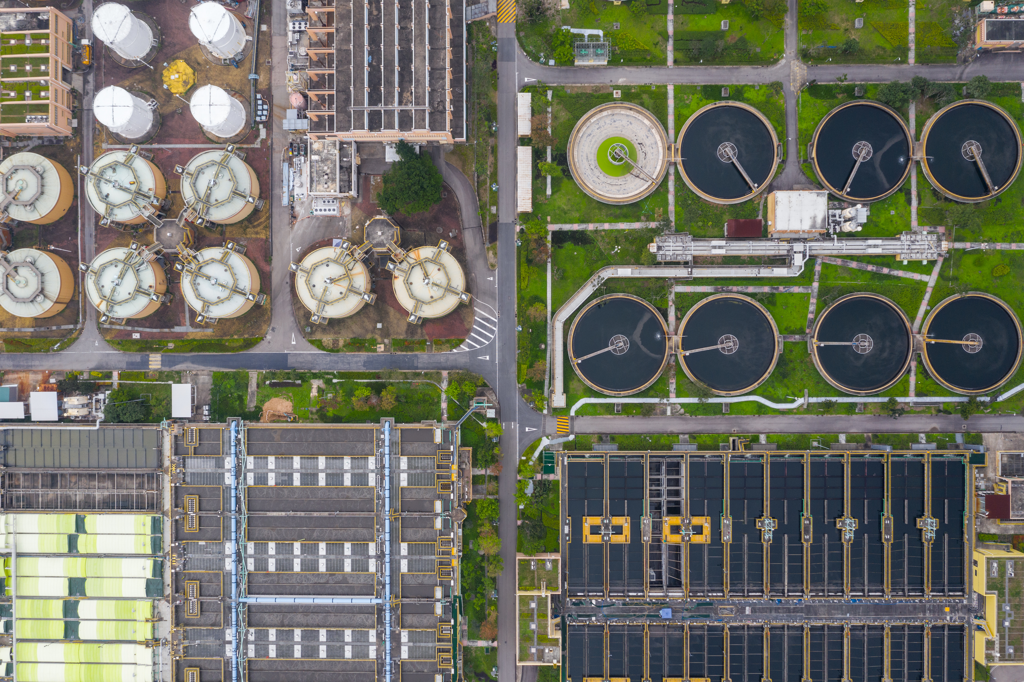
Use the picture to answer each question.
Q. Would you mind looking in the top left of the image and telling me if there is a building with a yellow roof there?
Yes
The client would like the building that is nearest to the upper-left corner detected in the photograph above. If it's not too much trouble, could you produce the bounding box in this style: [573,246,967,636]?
[0,7,75,135]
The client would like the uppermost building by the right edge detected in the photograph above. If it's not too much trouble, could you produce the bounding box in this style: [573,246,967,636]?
[973,19,1024,53]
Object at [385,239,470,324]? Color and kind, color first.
white storage tank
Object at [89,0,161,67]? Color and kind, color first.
white storage tank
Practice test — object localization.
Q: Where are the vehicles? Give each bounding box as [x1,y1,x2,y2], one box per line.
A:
[68,37,91,72]
[282,409,296,420]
